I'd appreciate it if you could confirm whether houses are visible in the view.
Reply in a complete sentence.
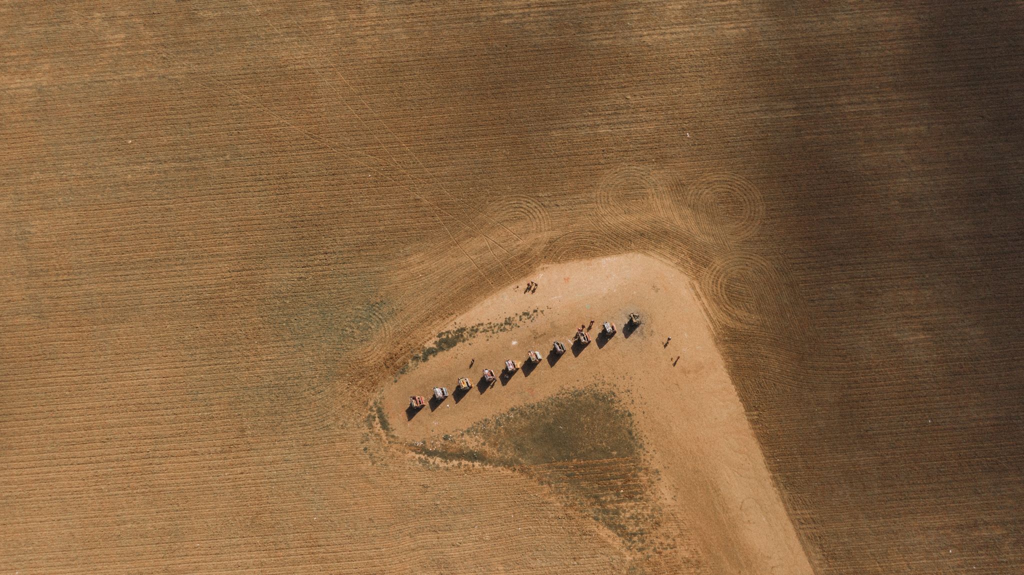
No, no house is visible in the scene.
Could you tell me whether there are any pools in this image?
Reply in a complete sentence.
No, the frame has no pool in it.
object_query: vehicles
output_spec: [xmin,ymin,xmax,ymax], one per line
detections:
[576,331,590,344]
[409,393,426,408]
[504,357,519,372]
[481,367,496,381]
[432,384,448,399]
[526,348,541,362]
[629,311,640,324]
[602,320,615,334]
[552,339,566,353]
[456,375,472,389]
